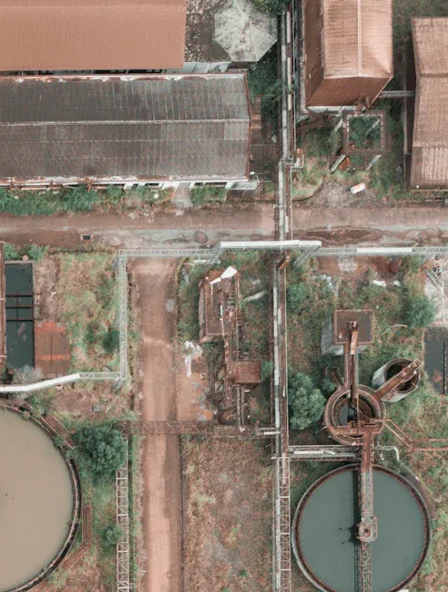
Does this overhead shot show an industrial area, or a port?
industrial area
